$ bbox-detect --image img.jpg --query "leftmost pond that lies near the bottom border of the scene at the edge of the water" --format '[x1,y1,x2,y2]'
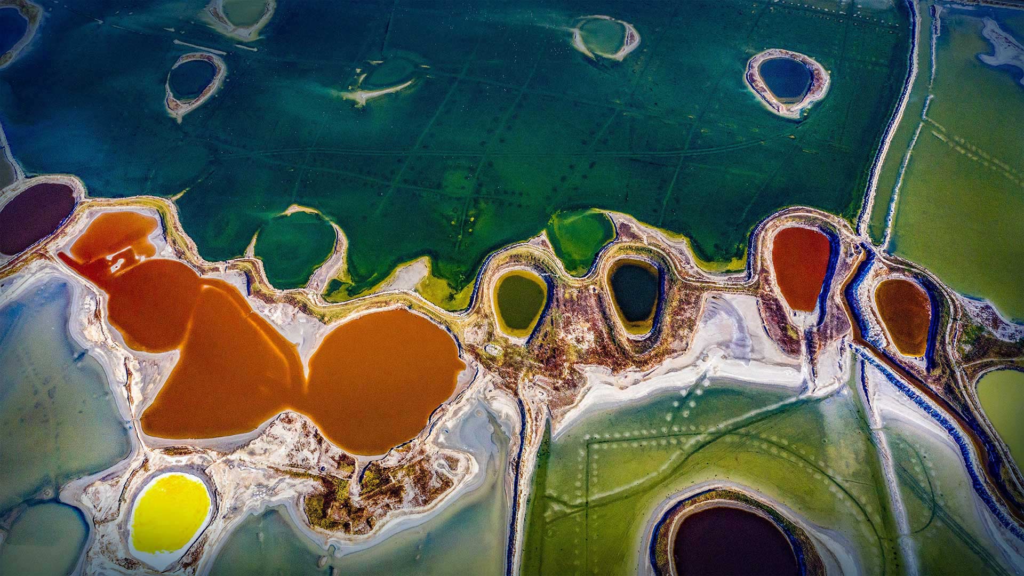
[121,466,217,576]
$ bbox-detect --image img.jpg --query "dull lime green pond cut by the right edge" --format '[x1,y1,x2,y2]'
[975,364,1024,475]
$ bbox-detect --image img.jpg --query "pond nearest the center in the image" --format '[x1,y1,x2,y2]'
[489,264,557,348]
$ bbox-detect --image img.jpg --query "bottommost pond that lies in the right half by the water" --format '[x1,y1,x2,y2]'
[649,486,828,576]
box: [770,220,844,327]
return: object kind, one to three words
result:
pond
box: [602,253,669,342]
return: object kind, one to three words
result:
pond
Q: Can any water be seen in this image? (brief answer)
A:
Yes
